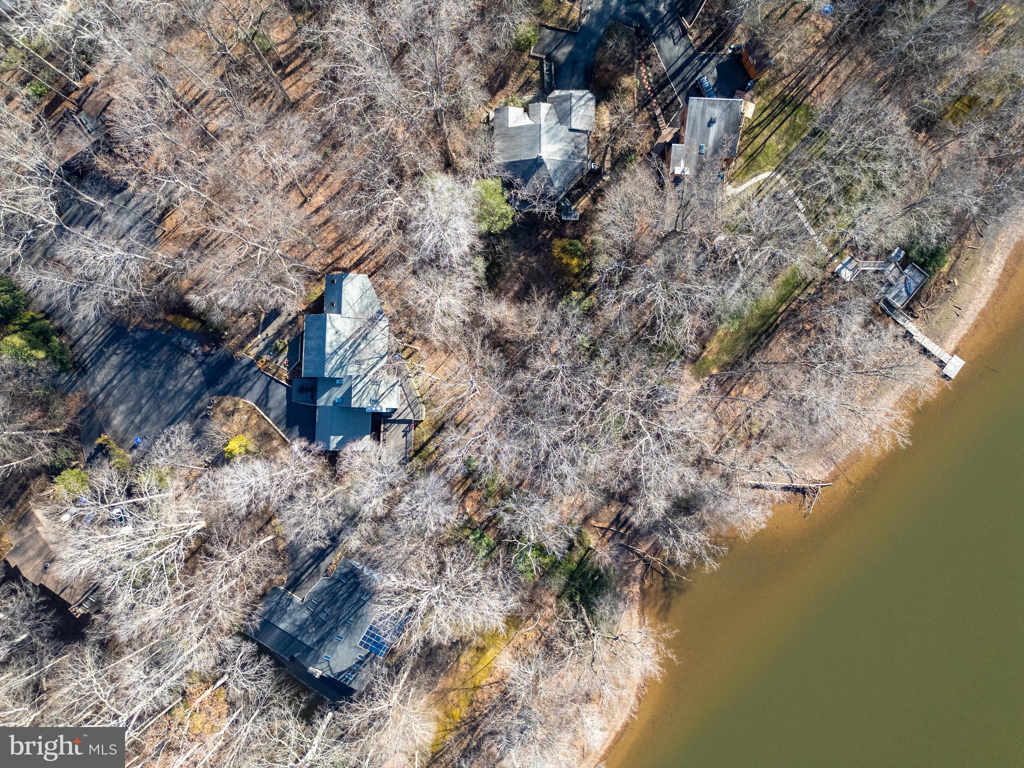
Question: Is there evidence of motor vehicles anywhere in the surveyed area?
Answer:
Yes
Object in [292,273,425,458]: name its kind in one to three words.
house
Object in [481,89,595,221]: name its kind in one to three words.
house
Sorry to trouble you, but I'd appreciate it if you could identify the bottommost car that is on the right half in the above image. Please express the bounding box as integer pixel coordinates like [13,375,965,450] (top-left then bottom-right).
[695,70,720,97]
